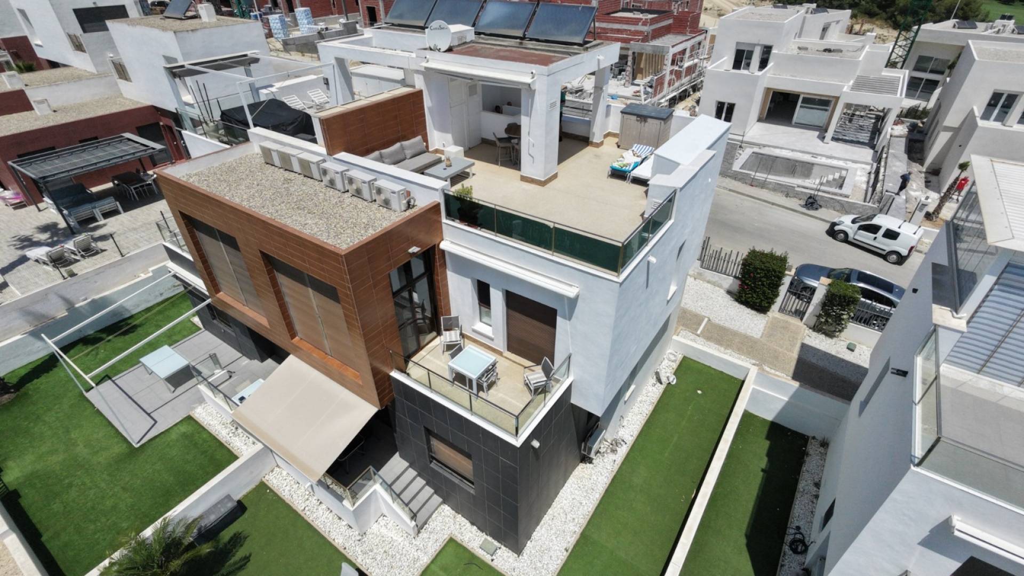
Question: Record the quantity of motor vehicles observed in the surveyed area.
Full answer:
I count 2 motor vehicles.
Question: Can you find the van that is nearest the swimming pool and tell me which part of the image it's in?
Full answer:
The van that is nearest the swimming pool appears toward the right of the photo.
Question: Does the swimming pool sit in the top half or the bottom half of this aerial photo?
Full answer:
The top half of the photo is where the swimming pool is.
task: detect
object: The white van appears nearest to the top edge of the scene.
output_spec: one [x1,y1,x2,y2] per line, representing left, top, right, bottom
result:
[830,214,934,267]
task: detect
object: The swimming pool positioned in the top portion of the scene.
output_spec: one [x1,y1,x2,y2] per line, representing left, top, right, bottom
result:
[731,149,857,196]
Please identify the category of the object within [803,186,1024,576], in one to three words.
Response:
house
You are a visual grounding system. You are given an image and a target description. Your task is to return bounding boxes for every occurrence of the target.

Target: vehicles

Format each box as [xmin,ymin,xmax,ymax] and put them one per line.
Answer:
[789,266,908,329]
[830,214,934,267]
